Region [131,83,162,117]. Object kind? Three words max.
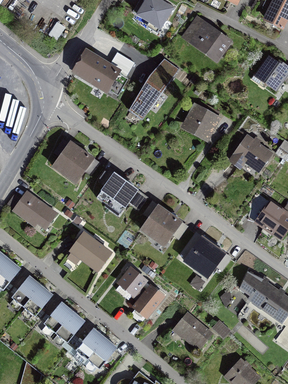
solar array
